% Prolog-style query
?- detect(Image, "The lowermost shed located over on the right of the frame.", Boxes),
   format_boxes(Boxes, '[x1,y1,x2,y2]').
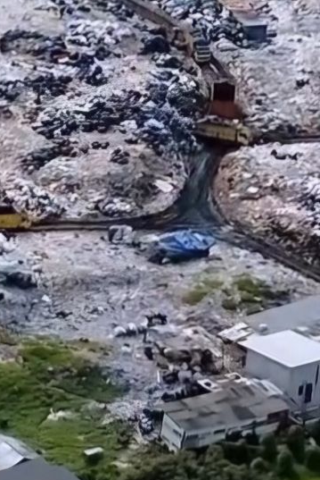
[159,375,290,455]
